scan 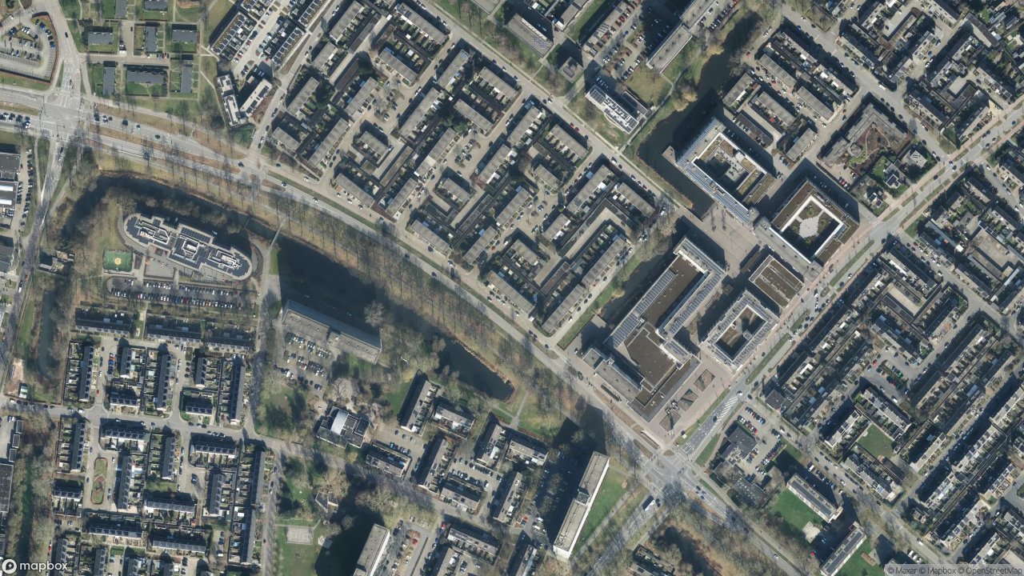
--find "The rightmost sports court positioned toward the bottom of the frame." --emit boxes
[286,527,313,544]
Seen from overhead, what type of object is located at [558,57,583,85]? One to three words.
building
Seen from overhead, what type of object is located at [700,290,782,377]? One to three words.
building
